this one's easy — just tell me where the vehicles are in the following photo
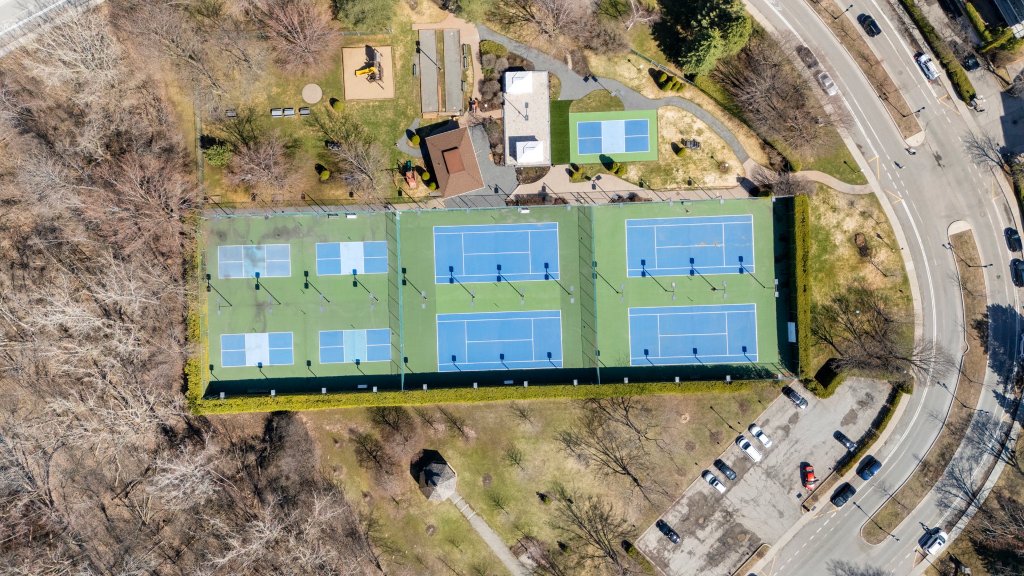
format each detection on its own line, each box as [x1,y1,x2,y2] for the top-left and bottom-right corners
[831,485,857,508]
[922,529,949,555]
[834,430,857,452]
[857,455,883,478]
[782,386,807,409]
[1003,226,1021,253]
[802,465,819,490]
[817,72,838,97]
[748,424,772,447]
[916,53,946,82]
[712,458,736,481]
[860,14,882,39]
[657,520,679,542]
[703,470,726,493]
[796,45,818,71]
[736,436,762,462]
[961,50,981,75]
[1019,333,1024,358]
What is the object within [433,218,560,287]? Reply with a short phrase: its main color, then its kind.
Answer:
blue tennis court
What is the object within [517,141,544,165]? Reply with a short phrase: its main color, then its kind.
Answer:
white tent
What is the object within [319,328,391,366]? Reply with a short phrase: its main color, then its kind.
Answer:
blue sports court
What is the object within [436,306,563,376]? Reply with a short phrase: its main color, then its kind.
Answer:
blue tennis court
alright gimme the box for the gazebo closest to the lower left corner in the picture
[419,460,457,500]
